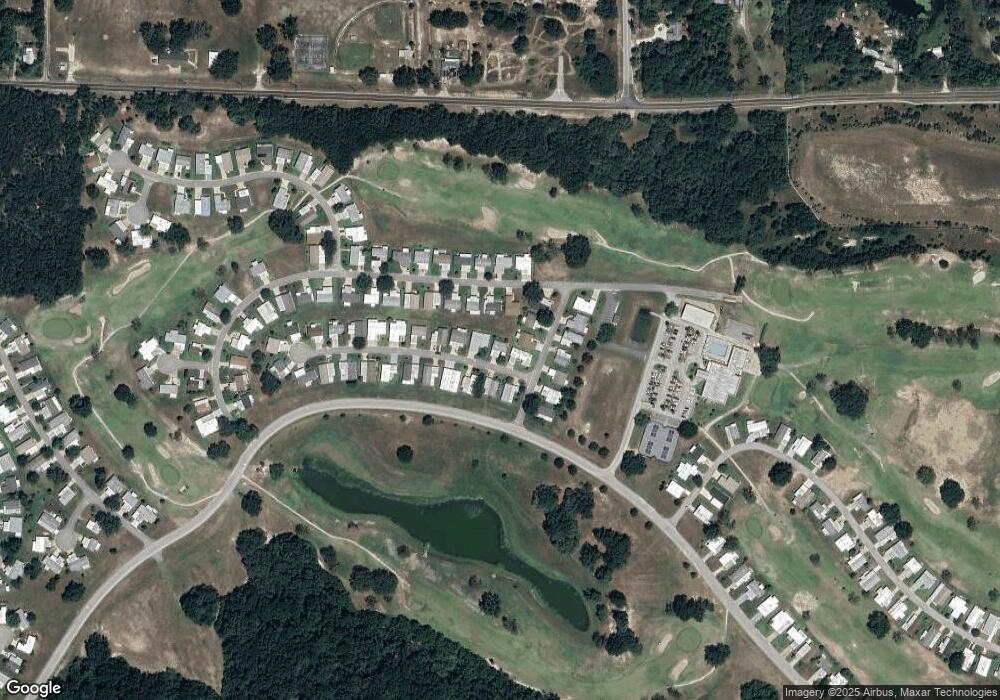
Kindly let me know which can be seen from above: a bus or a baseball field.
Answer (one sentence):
There is a baseball field in the scene.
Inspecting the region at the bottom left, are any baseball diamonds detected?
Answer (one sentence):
No, no baseball diamond is visible at the bottom left.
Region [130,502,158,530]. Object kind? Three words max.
house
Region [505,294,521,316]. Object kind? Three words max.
house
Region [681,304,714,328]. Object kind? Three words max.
building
